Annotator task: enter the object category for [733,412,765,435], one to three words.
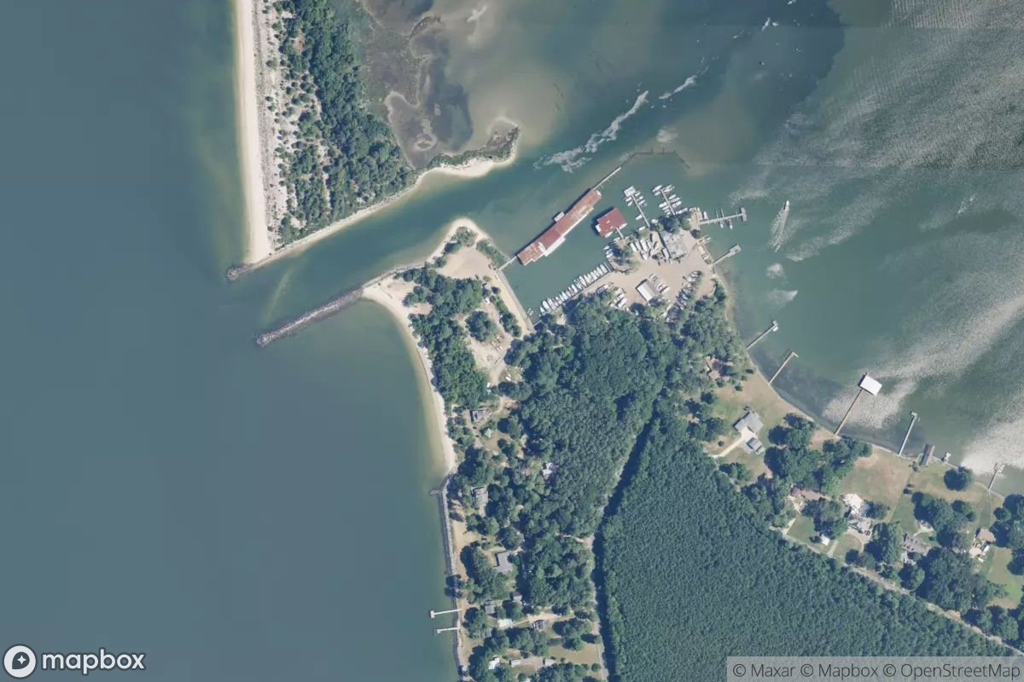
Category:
house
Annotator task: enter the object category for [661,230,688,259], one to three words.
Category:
building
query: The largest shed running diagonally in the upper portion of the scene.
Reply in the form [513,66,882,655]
[518,188,601,264]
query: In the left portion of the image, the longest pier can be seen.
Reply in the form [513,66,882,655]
[257,287,364,345]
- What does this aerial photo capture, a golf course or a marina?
marina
